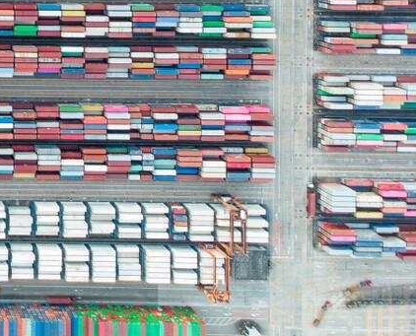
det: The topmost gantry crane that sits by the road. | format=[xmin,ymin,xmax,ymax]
[209,189,248,255]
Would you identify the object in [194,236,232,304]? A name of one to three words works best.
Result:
container crane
